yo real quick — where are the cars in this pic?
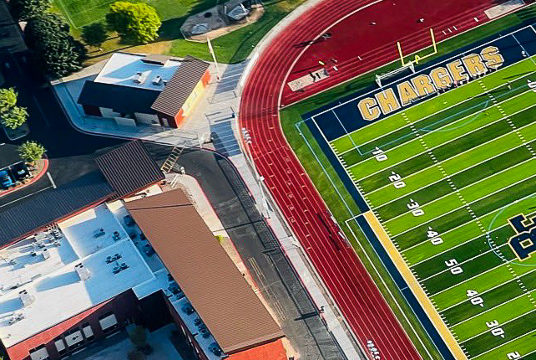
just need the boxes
[0,166,10,186]
[14,163,27,181]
